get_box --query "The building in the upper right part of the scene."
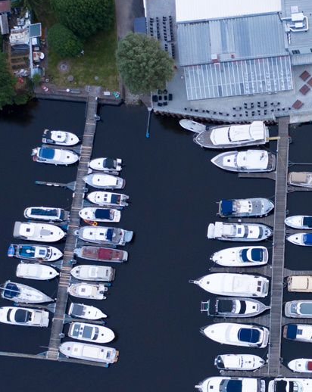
[175,0,312,103]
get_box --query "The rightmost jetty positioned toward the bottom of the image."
[209,123,312,381]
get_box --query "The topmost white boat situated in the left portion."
[39,130,83,149]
